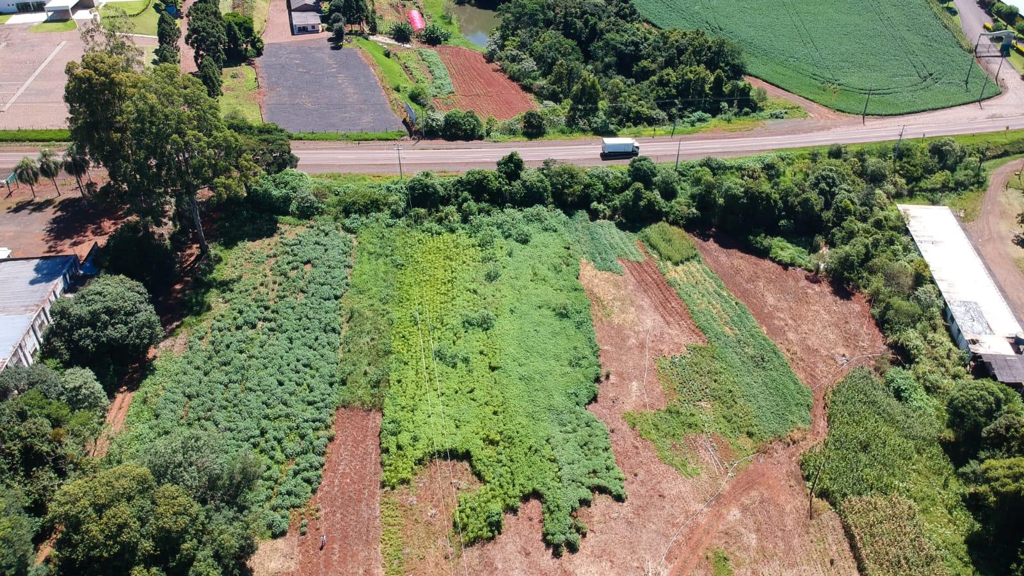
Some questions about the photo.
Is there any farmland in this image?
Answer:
Yes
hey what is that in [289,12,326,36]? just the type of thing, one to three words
house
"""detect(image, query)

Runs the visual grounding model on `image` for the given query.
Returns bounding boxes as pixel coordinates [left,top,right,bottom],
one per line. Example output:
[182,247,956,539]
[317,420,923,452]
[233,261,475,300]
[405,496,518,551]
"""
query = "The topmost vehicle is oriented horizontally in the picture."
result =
[600,136,639,155]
